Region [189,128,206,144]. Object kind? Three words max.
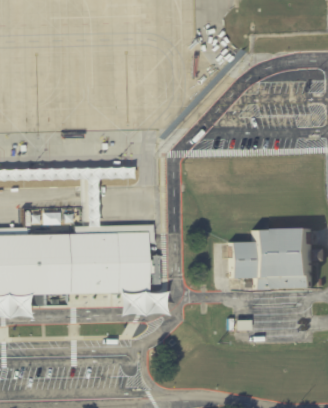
vehicle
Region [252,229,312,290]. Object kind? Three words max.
hangar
